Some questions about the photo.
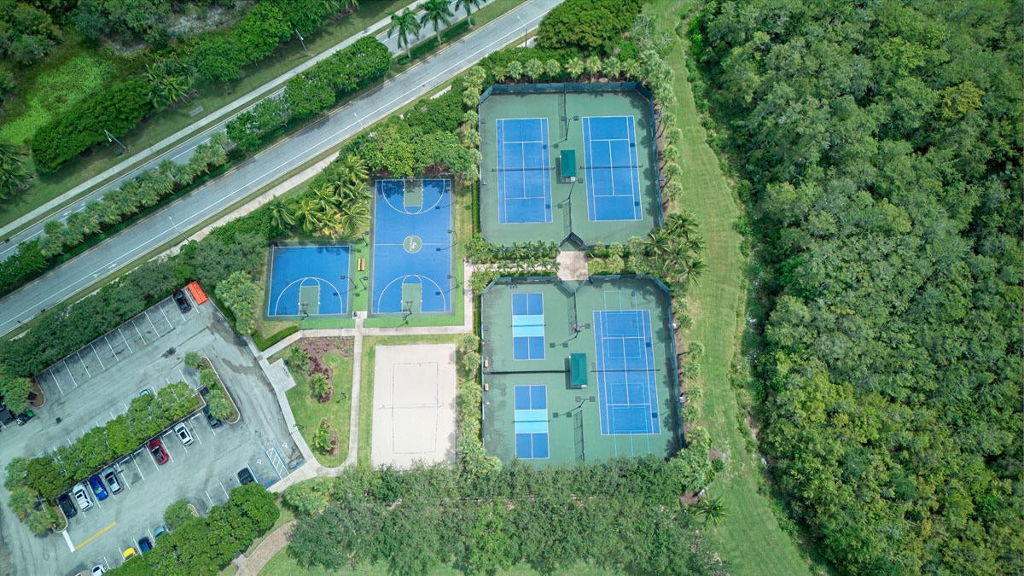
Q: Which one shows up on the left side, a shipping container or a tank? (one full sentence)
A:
Looking on the left side, you will find a shipping container.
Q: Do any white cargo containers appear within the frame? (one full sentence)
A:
No, I can see no white cargo container in this picture.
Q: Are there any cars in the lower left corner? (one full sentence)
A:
Yes, a car appears in the lower left corner.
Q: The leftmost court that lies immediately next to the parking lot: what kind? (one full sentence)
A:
It looks like the leftmost court that lies immediately next to the parking lot is a basketball court.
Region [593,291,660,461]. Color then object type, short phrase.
blue tennis court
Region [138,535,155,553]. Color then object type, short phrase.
blue car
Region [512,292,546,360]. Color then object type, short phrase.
blue sports court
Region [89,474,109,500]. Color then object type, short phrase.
blue car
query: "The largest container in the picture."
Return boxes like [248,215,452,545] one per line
[187,281,213,308]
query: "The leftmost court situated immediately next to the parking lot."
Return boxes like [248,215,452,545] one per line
[263,242,355,321]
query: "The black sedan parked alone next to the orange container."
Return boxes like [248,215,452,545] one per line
[173,291,192,314]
